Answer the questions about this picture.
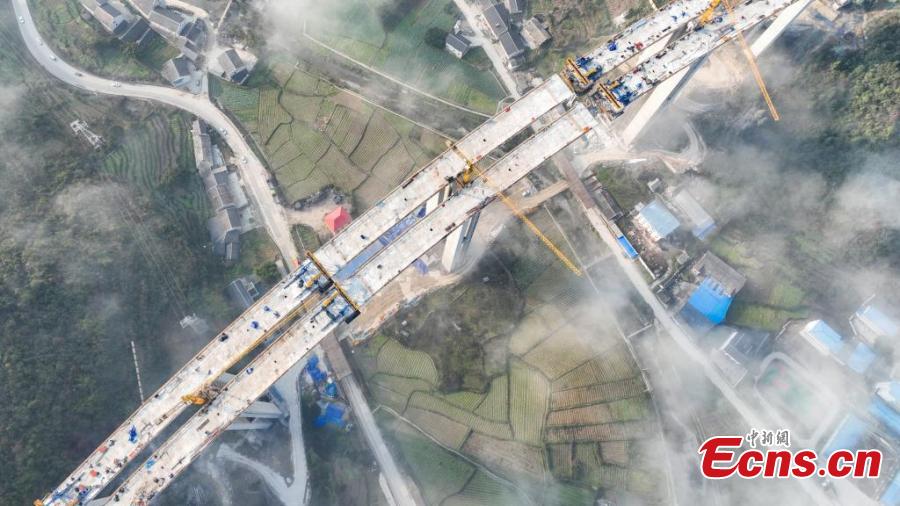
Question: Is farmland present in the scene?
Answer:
Yes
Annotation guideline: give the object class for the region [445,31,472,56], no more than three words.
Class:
house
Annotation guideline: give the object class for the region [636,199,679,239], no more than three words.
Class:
shed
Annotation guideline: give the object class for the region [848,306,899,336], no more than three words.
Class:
building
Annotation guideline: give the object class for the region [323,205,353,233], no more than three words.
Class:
shed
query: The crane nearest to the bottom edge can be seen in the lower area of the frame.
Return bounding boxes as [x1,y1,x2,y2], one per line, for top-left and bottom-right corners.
[182,289,323,412]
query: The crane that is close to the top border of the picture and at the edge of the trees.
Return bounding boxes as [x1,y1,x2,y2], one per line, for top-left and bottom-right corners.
[691,0,780,121]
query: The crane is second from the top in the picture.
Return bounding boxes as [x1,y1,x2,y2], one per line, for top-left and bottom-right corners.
[446,141,583,274]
